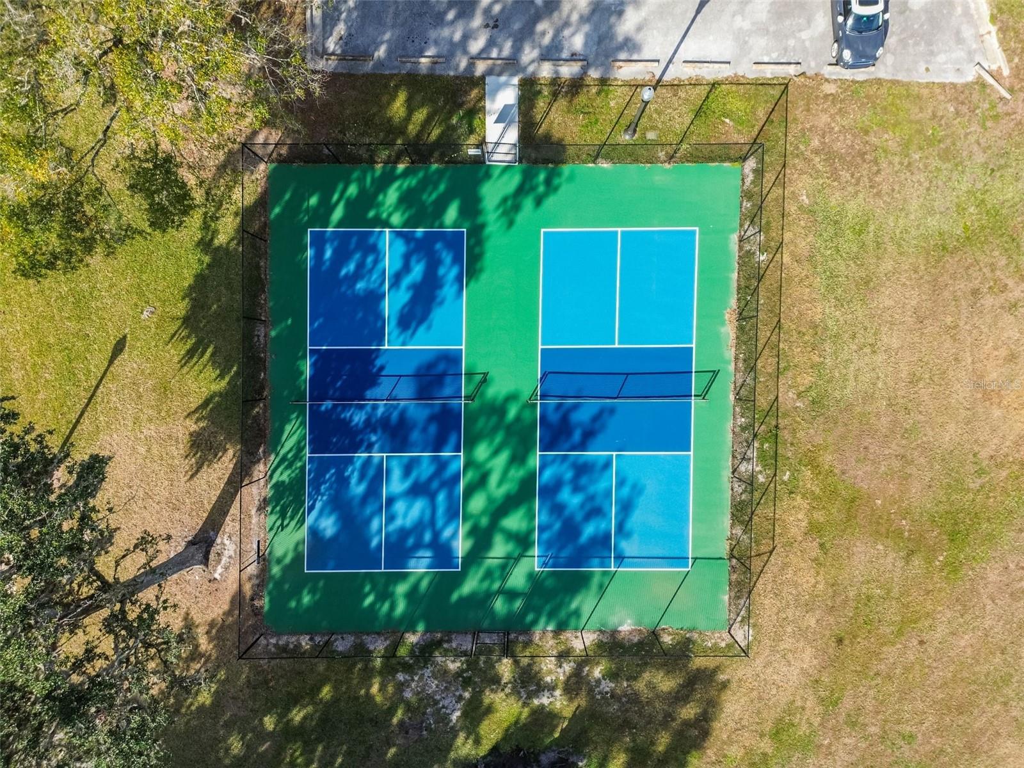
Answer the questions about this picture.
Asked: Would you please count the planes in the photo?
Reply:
none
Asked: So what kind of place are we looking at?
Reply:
sports ground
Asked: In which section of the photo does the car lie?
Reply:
top right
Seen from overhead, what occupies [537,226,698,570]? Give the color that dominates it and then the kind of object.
blue sports court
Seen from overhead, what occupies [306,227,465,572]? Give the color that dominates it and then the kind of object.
blue sports court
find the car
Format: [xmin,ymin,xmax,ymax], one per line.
[829,0,891,68]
